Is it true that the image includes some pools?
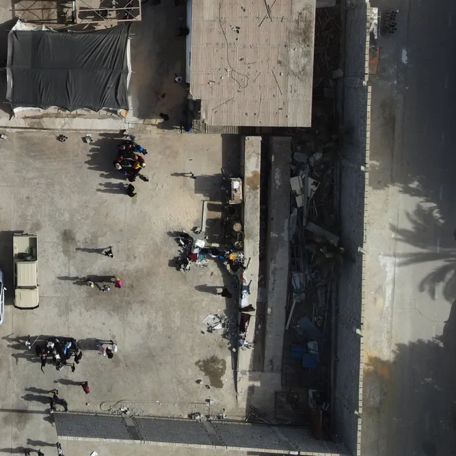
No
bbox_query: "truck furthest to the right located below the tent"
[11,234,42,310]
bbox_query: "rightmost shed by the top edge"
[187,0,315,129]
